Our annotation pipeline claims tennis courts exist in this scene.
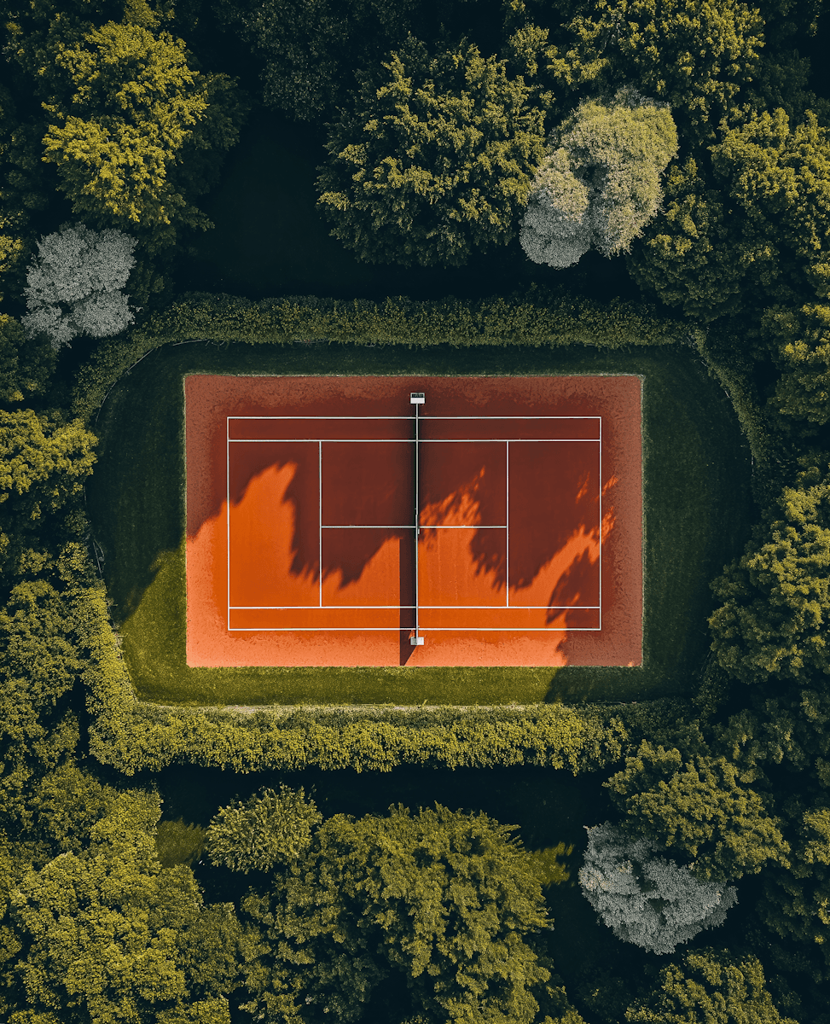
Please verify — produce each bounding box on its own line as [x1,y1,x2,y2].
[185,374,643,667]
